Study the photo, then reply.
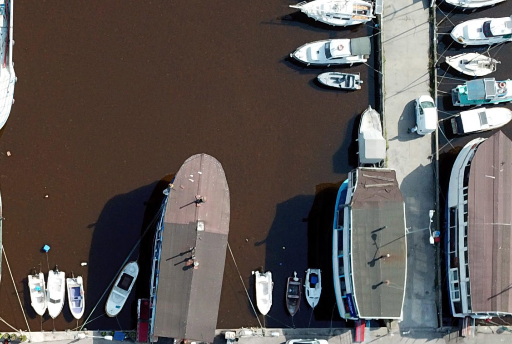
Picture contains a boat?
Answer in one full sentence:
Yes, there's a boat here.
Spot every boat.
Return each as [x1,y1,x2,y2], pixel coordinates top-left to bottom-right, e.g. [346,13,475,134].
[47,266,65,332]
[288,33,381,74]
[67,272,84,318]
[251,267,275,320]
[353,100,386,168]
[436,8,512,60]
[286,274,301,316]
[289,0,380,26]
[438,76,512,109]
[82,153,263,343]
[439,106,512,134]
[318,72,381,99]
[73,251,141,330]
[330,167,416,333]
[439,129,512,332]
[437,39,507,83]
[436,0,505,17]
[302,269,321,324]
[30,269,47,314]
